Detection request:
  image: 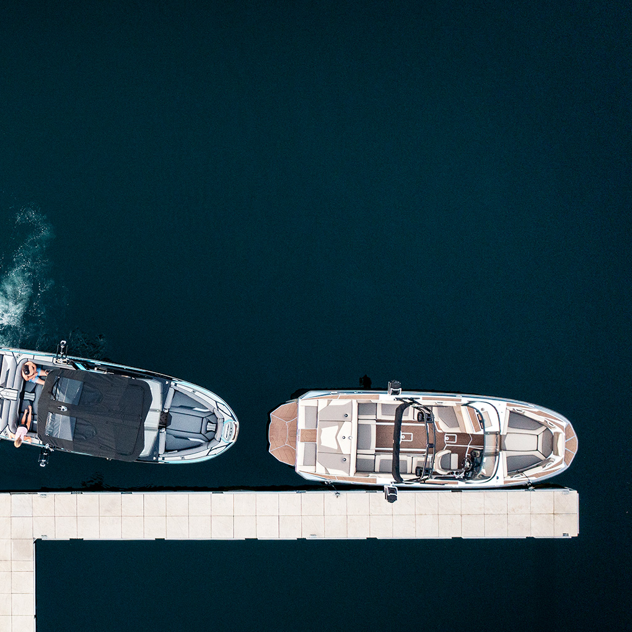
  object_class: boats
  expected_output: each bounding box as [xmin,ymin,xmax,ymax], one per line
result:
[0,340,239,467]
[267,380,579,503]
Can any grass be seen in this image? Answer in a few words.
No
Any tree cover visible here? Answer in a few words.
No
